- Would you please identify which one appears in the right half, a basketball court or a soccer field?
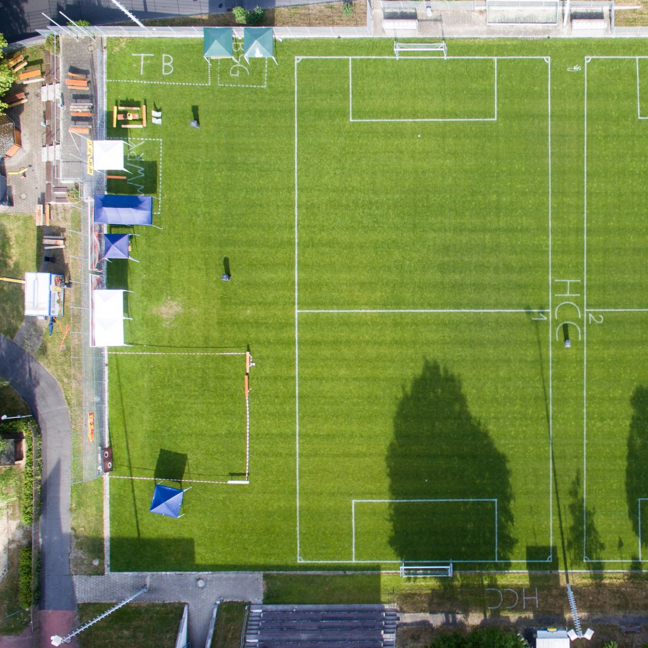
soccer field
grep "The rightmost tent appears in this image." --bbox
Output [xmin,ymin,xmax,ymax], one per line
[244,27,280,65]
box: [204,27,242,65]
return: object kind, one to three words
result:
tent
